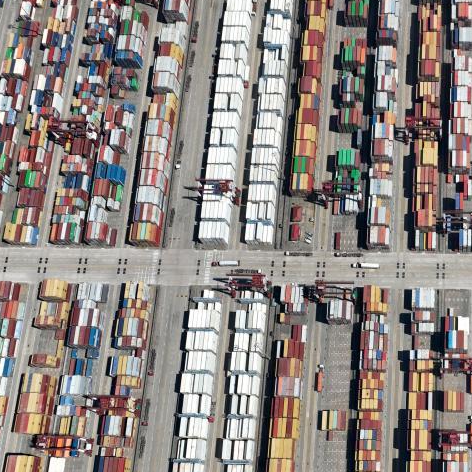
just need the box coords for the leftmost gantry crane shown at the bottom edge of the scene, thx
[37,435,96,458]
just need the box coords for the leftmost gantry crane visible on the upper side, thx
[50,120,101,148]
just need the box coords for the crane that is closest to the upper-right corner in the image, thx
[404,119,443,148]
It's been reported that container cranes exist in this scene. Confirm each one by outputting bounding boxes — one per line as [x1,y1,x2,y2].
[320,185,363,213]
[404,119,443,148]
[37,435,96,458]
[437,431,472,453]
[193,182,241,210]
[50,120,101,148]
[224,275,273,301]
[87,395,144,418]
[314,282,358,308]
[439,359,472,383]
[441,214,472,240]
